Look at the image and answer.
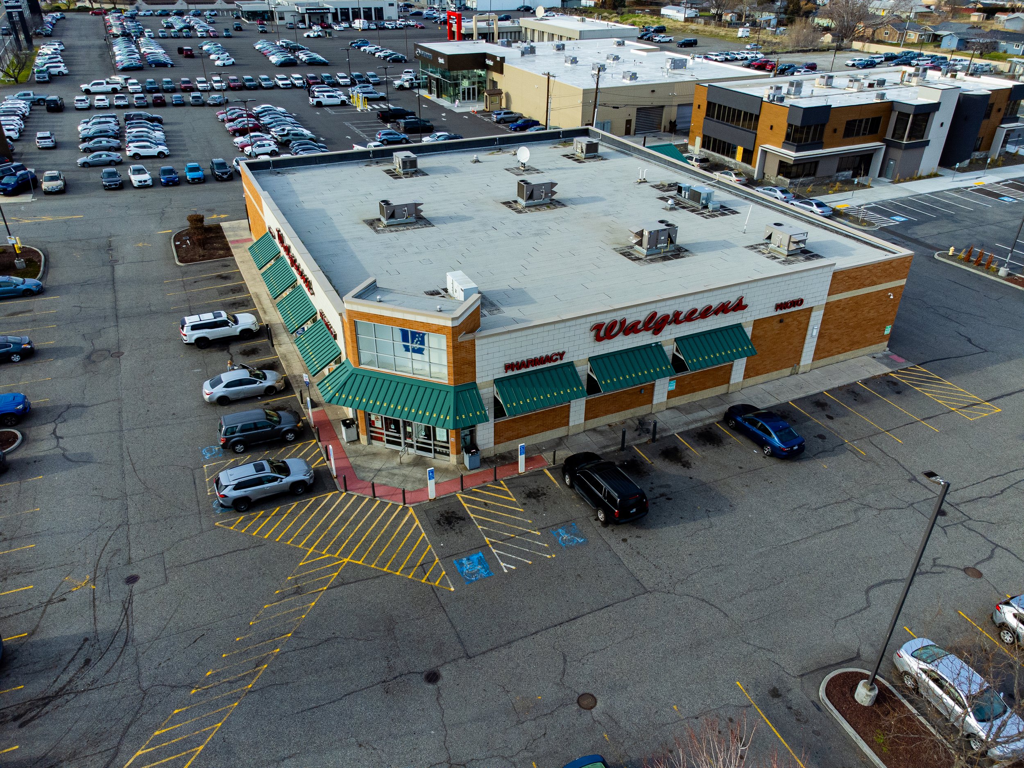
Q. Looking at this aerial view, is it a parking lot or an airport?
parking lot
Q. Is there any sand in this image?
No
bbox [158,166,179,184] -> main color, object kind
blue car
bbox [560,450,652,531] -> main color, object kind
black car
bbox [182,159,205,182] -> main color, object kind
blue car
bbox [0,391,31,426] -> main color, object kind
blue truck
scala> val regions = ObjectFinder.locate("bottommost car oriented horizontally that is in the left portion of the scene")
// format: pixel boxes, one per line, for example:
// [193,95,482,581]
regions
[215,459,314,512]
